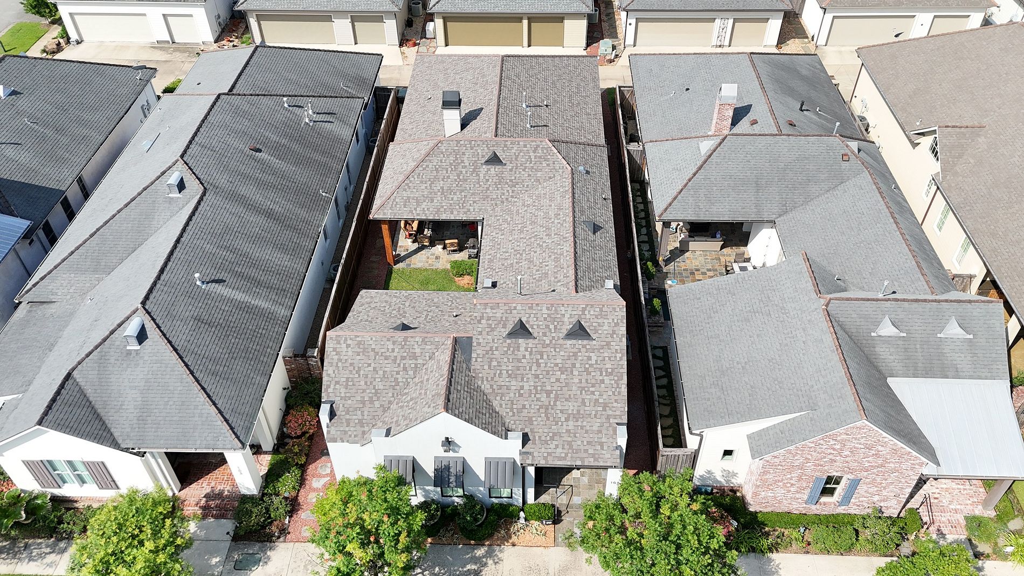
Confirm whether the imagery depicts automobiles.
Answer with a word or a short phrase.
No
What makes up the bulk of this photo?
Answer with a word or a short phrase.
buildings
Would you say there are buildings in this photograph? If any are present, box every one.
[426,0,596,47]
[319,54,630,523]
[46,0,239,43]
[0,45,383,518]
[628,51,1024,533]
[241,0,410,45]
[620,0,794,48]
[797,0,1001,46]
